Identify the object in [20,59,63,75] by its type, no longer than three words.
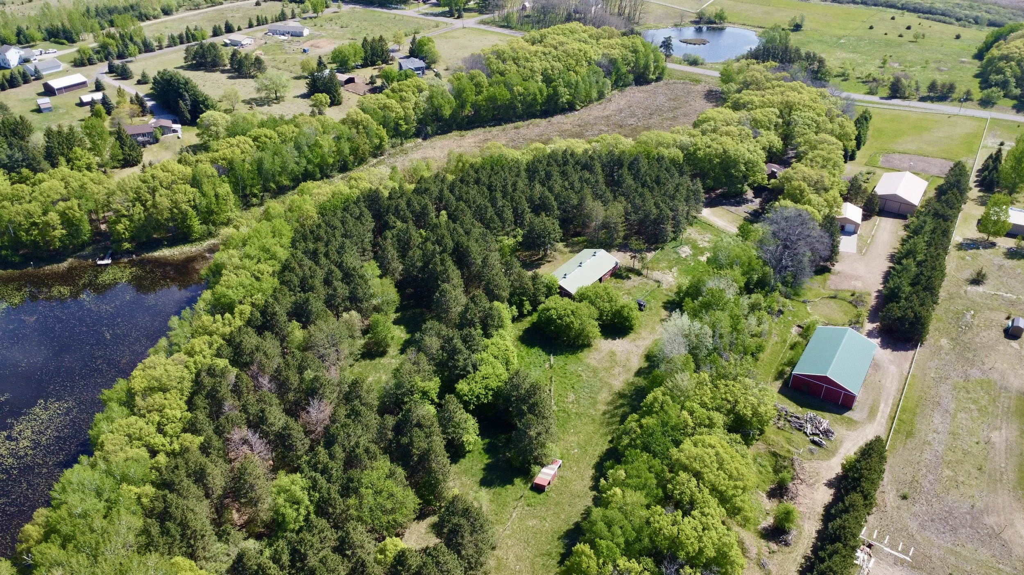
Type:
shed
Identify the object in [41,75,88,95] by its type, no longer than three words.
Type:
shed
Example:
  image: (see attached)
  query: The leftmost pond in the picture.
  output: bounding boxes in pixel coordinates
[639,25,758,63]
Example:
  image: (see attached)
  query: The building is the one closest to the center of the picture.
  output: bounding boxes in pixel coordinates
[545,248,620,300]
